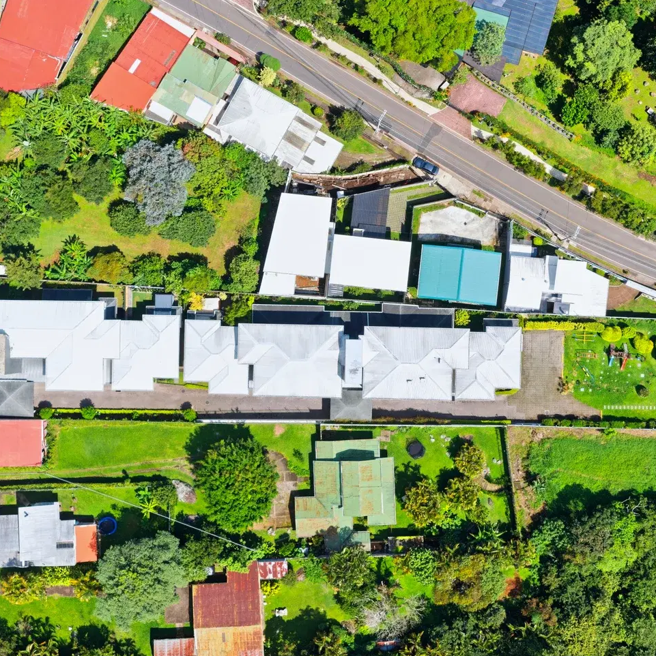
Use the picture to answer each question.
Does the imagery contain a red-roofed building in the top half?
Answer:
Yes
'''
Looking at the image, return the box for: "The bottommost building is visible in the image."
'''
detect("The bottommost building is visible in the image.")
[154,558,288,656]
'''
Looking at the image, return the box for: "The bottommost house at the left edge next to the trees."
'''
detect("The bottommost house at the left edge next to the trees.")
[0,501,100,567]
